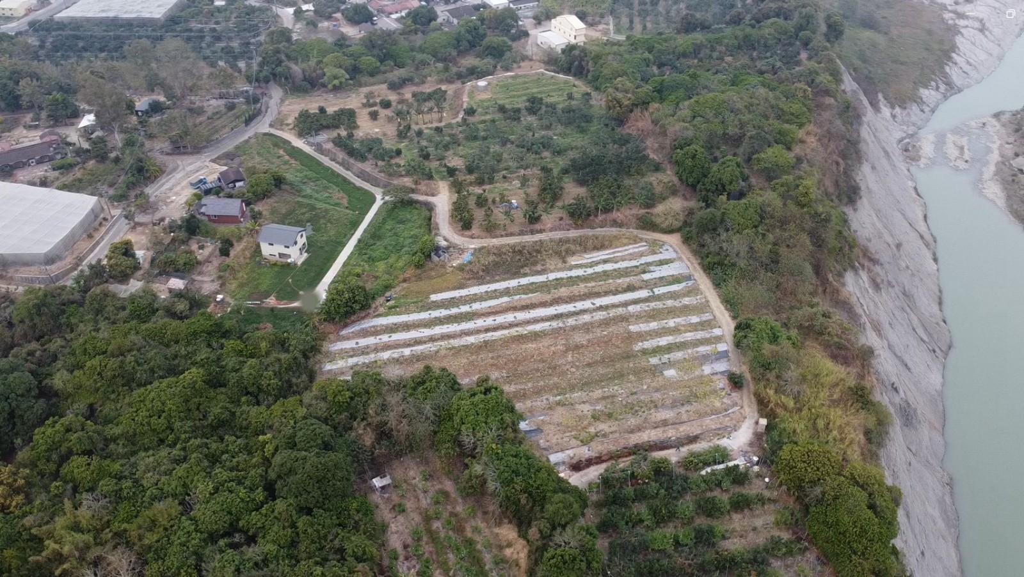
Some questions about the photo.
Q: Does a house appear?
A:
Yes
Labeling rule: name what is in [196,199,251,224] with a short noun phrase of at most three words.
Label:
house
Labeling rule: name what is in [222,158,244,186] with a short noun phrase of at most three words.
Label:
shed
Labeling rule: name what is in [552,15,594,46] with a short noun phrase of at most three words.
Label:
house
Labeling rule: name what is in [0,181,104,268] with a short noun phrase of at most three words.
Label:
greenhouse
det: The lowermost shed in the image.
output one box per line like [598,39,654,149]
[369,463,394,494]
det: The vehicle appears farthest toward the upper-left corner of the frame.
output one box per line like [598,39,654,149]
[187,175,210,188]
